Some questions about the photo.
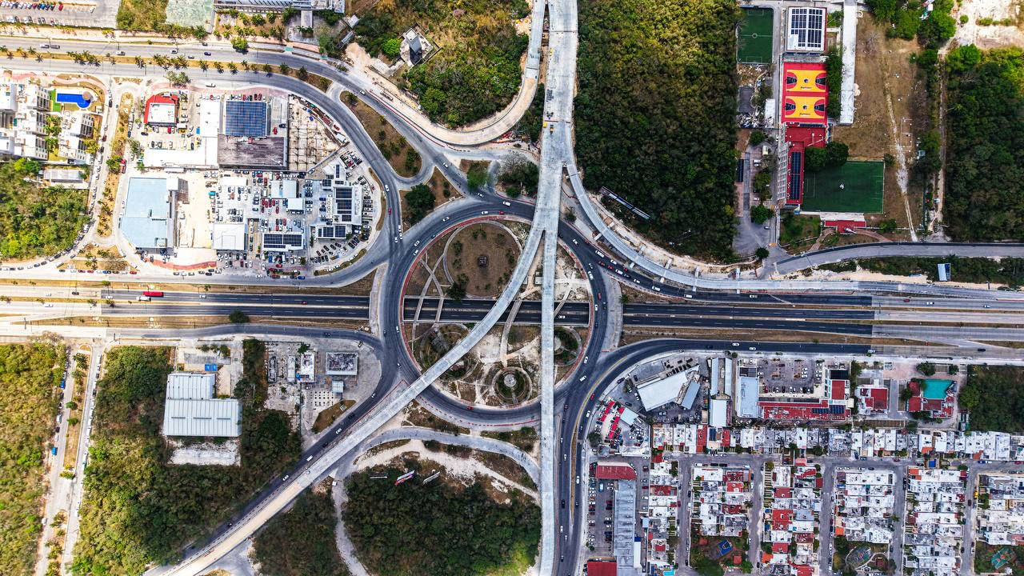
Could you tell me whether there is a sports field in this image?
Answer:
Yes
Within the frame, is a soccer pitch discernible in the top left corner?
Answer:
No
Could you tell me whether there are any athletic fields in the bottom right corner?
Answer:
No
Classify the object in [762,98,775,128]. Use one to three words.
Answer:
shed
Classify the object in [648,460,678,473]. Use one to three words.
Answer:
house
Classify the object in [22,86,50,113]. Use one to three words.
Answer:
building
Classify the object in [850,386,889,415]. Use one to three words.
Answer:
house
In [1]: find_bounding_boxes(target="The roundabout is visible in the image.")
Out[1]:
[385,200,607,422]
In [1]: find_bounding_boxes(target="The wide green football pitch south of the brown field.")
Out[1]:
[801,162,884,213]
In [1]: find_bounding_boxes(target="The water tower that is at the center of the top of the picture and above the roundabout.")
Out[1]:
[403,27,423,57]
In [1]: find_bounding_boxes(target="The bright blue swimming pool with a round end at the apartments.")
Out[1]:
[56,92,92,110]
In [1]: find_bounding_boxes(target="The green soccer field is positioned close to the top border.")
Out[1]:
[737,7,773,64]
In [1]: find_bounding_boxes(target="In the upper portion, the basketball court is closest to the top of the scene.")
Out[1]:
[786,70,828,92]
